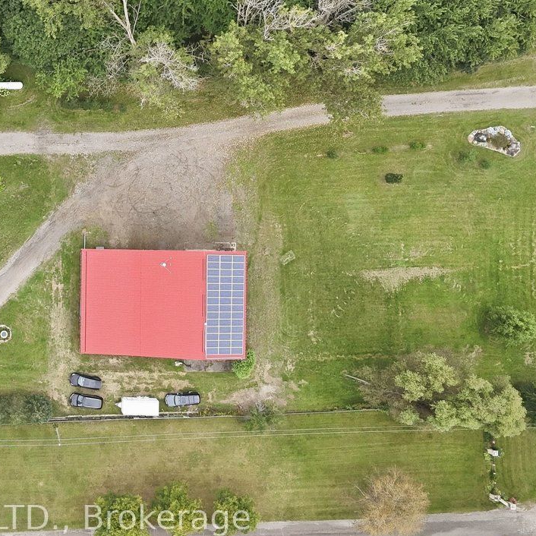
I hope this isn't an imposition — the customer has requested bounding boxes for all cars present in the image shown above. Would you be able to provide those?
[69,374,103,391]
[70,394,104,410]
[166,393,202,408]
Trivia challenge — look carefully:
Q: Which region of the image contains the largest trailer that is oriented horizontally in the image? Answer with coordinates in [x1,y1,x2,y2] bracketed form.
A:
[113,395,159,417]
